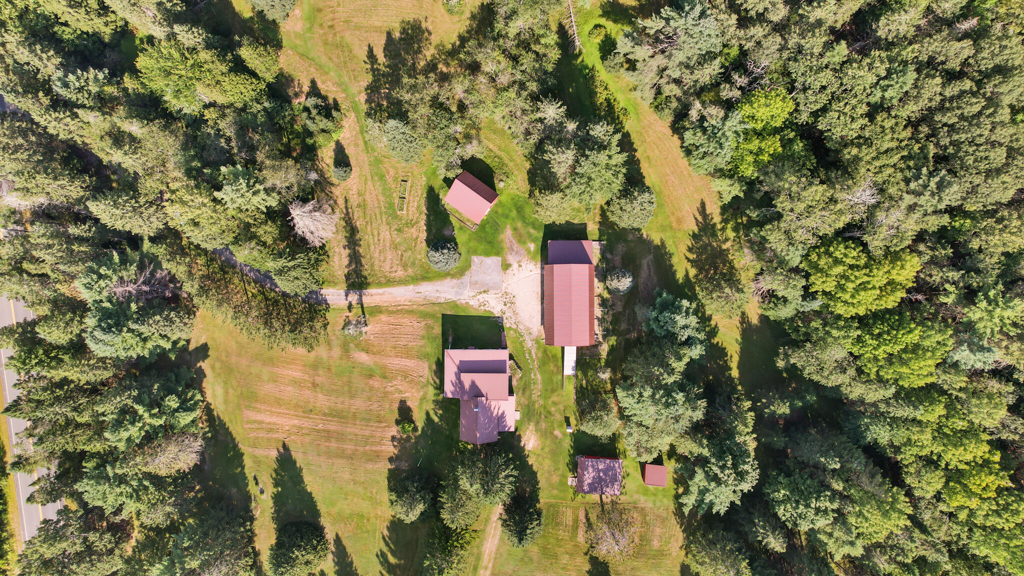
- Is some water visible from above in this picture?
No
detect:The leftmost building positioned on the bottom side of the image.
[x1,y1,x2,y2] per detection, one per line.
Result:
[440,346,520,445]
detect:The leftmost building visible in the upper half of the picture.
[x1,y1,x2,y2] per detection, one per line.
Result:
[444,170,499,225]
